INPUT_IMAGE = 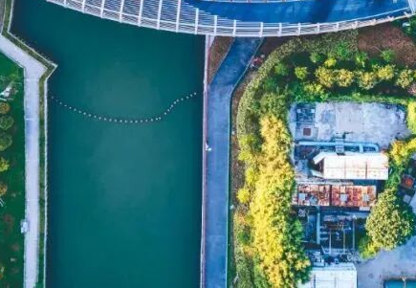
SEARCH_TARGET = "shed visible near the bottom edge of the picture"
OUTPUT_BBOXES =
[302,259,357,288]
